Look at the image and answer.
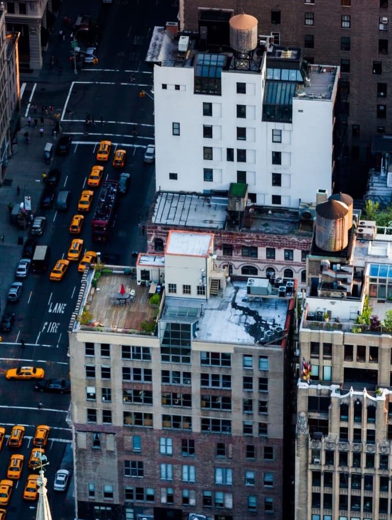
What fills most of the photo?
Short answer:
buildings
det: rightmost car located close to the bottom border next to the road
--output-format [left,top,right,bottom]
[51,469,72,495]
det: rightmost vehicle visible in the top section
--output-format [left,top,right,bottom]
[142,145,156,166]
